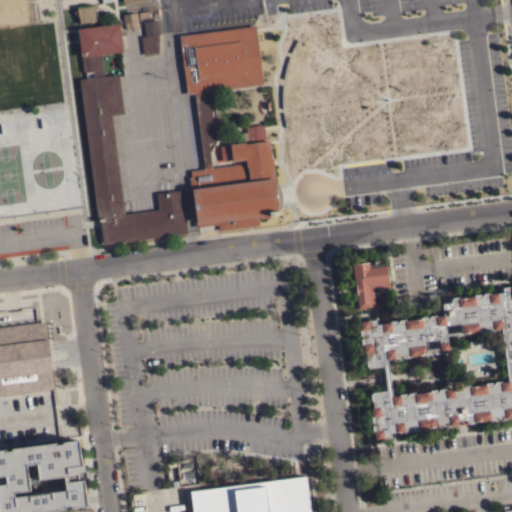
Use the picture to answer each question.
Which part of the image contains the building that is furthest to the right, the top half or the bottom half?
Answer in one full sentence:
The building that is furthest to the right sits in the bottom half of the picture.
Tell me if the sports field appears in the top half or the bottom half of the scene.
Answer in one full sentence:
The sports field sits in the top half of the picture.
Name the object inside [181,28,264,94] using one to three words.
building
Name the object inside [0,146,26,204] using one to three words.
basketball court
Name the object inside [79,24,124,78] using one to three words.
house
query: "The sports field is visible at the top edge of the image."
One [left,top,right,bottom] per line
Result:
[0,24,63,110]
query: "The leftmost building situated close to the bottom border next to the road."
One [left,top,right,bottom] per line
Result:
[0,441,87,512]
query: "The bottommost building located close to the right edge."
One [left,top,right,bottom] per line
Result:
[372,382,512,442]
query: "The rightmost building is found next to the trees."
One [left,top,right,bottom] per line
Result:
[444,288,512,384]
